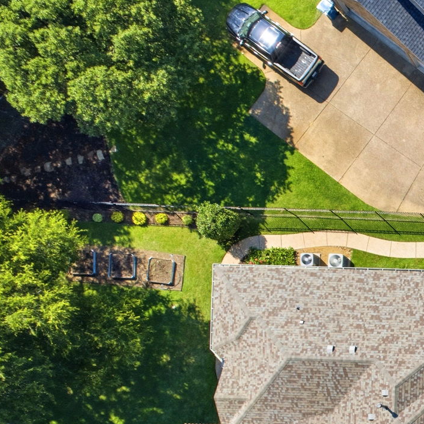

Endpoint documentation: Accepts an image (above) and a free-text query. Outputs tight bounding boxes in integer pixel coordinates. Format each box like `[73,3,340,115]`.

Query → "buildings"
[338,0,424,73]
[208,262,424,424]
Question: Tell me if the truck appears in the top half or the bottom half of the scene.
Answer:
top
